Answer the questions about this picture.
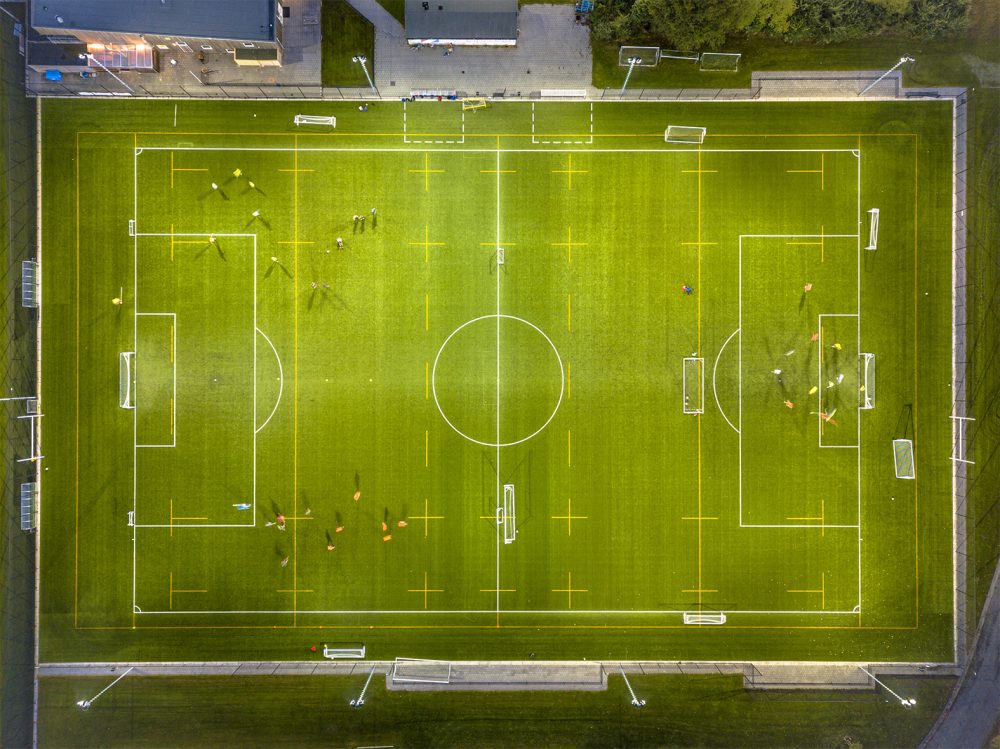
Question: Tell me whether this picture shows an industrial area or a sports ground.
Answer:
sports ground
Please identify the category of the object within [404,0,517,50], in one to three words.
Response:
building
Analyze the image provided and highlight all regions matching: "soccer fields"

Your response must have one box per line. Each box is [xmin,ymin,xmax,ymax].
[39,99,953,662]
